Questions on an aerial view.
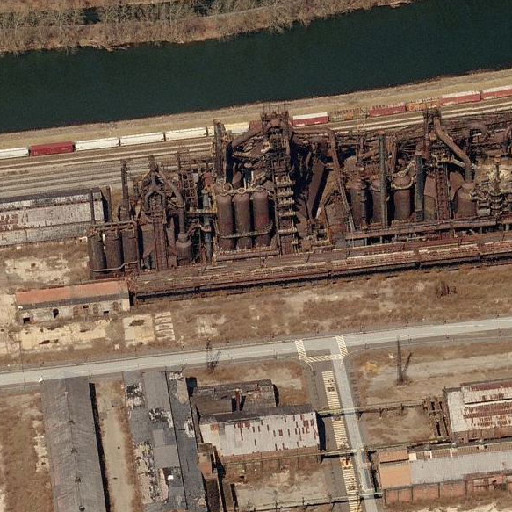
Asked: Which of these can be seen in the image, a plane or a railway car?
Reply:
railway car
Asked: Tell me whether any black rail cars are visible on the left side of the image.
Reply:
No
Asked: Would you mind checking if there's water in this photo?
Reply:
Yes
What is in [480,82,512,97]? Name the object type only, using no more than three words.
rail car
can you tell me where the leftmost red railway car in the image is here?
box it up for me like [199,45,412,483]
[28,138,74,154]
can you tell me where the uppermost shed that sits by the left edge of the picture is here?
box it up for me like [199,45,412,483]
[0,186,104,249]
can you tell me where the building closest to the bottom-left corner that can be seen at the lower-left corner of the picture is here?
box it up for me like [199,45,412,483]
[43,373,109,512]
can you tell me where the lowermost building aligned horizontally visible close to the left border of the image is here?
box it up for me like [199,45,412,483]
[15,275,130,324]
